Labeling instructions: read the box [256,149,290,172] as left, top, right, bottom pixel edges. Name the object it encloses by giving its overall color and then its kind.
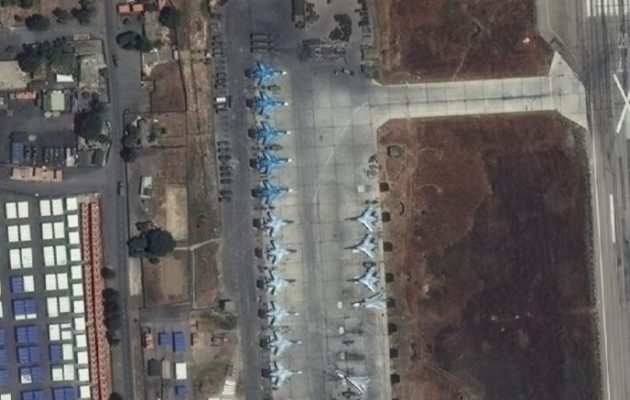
blue airplane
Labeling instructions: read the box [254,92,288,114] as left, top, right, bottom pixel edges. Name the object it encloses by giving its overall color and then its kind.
blue airplane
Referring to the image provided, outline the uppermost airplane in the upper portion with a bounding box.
[253,60,287,83]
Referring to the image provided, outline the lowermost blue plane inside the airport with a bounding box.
[257,179,291,201]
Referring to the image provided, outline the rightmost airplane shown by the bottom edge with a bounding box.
[337,373,370,391]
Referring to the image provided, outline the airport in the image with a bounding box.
[213,0,630,400]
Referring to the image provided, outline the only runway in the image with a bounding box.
[586,0,630,400]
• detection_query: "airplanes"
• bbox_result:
[263,268,296,293]
[348,238,380,263]
[254,92,288,114]
[253,60,287,83]
[256,149,290,172]
[268,359,301,385]
[257,179,291,201]
[264,239,297,264]
[348,268,381,293]
[255,121,290,143]
[265,302,298,327]
[347,208,380,233]
[352,294,385,310]
[268,330,300,355]
[337,373,370,391]
[261,210,294,234]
